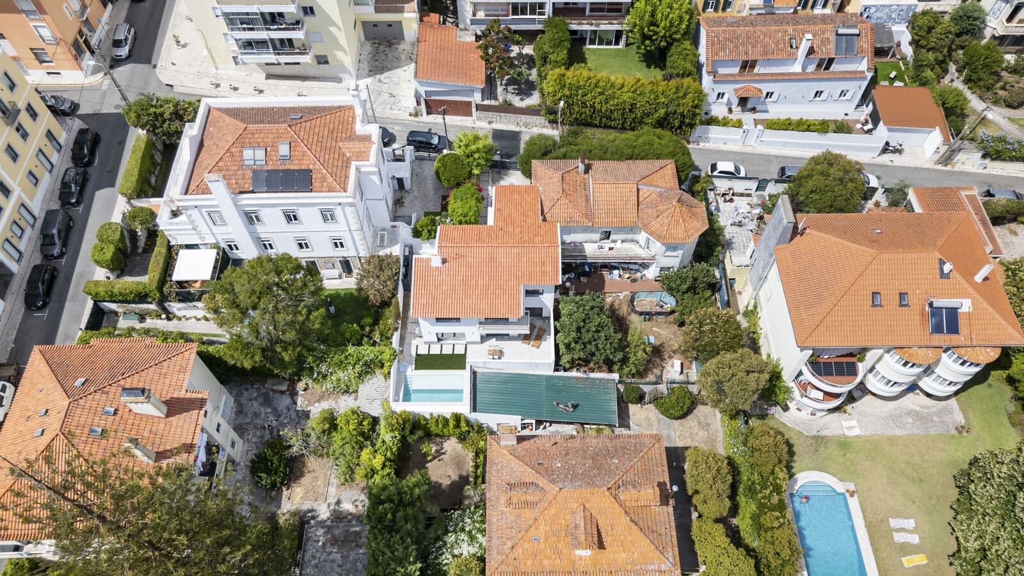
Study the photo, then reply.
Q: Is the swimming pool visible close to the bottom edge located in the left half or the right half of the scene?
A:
right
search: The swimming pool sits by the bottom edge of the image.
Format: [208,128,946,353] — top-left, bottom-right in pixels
[789,469,883,576]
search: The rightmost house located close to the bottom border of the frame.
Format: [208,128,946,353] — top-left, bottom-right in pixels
[484,424,682,576]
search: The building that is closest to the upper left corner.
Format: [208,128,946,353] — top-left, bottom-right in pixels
[0,0,112,79]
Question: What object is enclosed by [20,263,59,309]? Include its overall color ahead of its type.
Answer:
black car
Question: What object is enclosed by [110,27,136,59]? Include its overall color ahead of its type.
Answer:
gray car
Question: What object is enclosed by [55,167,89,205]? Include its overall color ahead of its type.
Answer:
black car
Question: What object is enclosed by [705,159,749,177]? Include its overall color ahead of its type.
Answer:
white car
